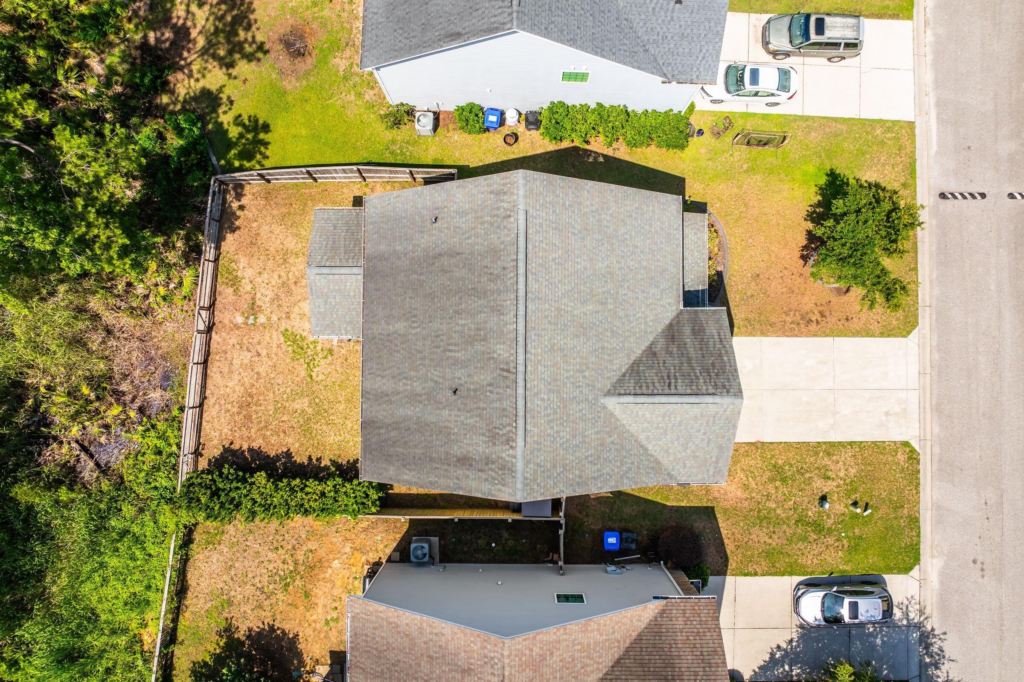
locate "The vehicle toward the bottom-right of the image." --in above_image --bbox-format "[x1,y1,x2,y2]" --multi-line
[793,580,899,637]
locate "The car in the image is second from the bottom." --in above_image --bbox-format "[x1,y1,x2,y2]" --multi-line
[699,52,799,106]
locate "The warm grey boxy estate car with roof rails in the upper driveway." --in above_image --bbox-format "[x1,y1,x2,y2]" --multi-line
[758,0,868,62]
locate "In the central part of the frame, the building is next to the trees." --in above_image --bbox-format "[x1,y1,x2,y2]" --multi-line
[308,169,743,503]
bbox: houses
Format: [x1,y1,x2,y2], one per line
[358,0,732,117]
[344,555,730,682]
[308,169,743,503]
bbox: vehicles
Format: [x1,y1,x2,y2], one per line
[758,0,868,62]
[793,580,899,637]
[699,52,799,106]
